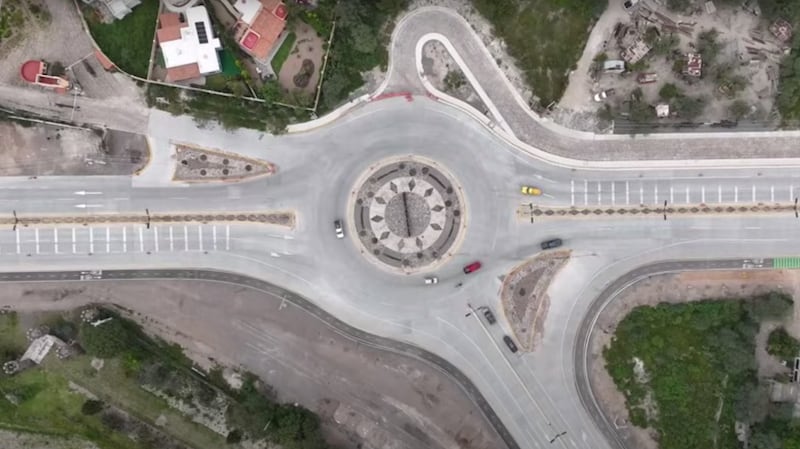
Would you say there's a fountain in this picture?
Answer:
No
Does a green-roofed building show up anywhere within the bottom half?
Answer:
No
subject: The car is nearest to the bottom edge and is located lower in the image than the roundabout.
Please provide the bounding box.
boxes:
[503,333,518,353]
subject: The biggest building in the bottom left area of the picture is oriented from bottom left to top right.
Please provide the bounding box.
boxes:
[20,333,71,369]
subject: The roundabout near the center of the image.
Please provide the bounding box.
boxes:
[300,108,514,322]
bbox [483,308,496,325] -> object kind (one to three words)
vehicle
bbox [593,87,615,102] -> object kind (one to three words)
vehicle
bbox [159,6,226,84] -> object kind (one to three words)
house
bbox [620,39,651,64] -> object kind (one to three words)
shed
